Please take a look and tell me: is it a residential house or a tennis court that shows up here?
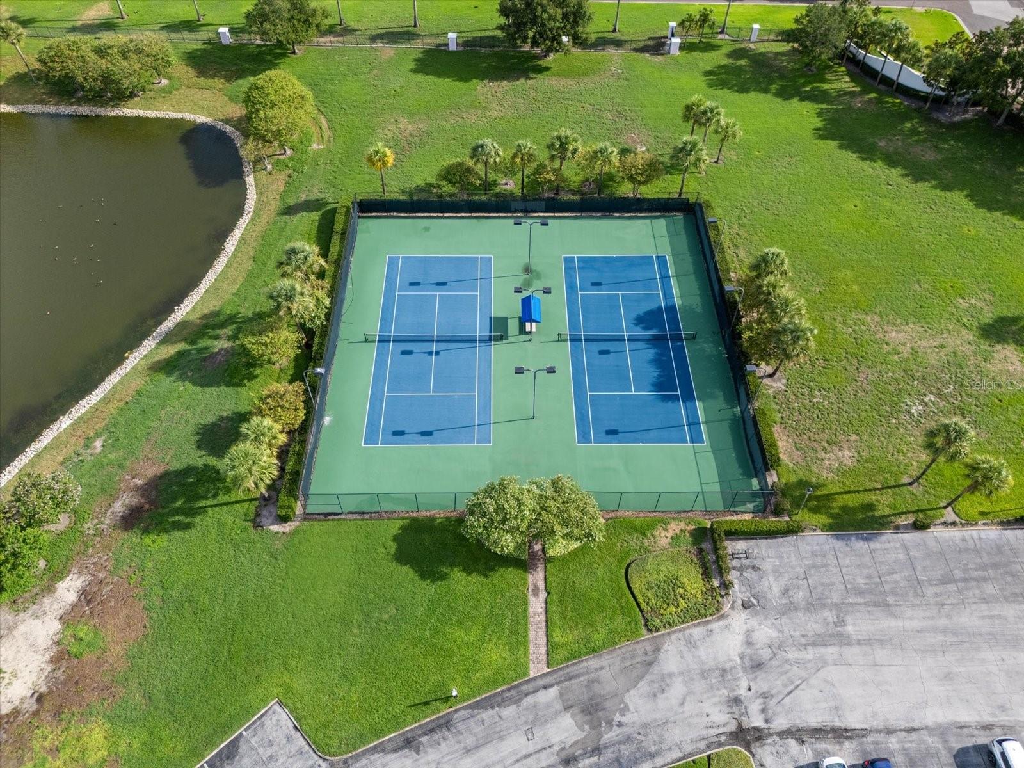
tennis court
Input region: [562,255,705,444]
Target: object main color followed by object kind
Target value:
blue tennis court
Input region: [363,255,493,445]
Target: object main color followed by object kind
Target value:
blue tennis court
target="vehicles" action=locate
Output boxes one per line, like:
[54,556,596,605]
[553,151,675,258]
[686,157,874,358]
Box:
[993,738,1024,768]
[861,756,893,768]
[820,755,852,768]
